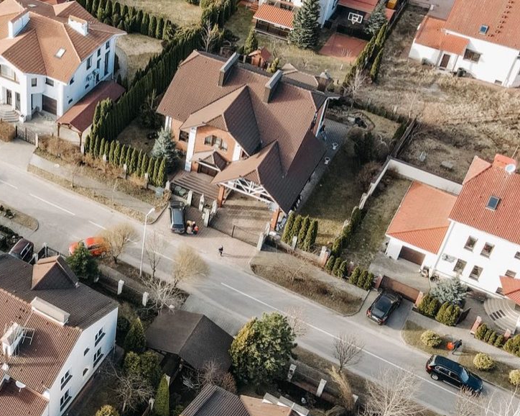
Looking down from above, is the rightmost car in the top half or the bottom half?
bottom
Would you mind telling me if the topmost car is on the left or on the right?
left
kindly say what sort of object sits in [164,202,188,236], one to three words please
car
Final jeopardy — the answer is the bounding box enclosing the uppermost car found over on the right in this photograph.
[364,289,403,326]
